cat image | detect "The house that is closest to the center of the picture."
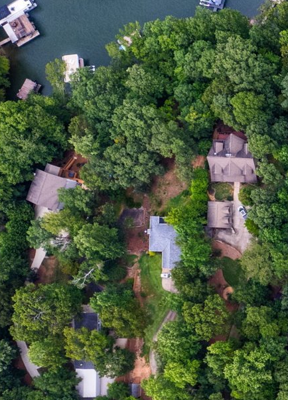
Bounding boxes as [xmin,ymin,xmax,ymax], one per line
[147,216,184,270]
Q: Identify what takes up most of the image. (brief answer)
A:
trees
